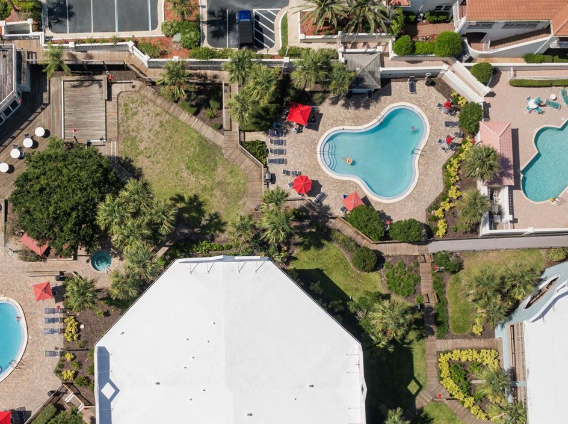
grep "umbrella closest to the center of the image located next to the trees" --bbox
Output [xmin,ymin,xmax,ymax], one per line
[293,176,311,193]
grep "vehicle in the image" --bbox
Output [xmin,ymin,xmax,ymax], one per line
[235,11,254,51]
